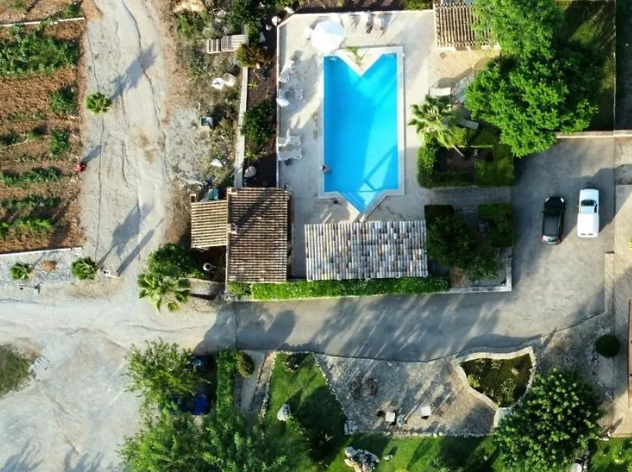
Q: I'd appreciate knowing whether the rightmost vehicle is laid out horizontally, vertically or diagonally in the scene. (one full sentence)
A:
What the image shows is the rightmost vehicle lying vertically.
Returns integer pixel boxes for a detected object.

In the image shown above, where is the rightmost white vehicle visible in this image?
[576,189,601,238]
